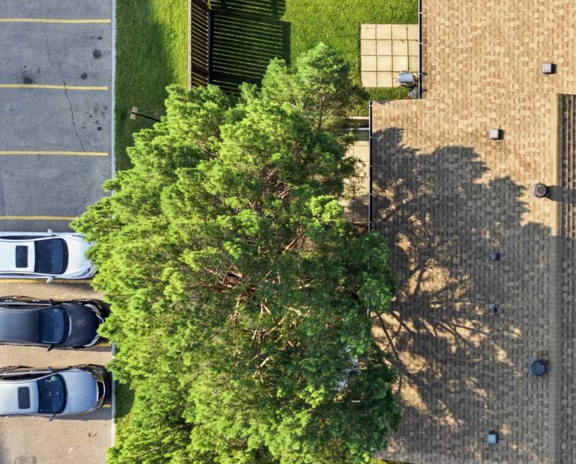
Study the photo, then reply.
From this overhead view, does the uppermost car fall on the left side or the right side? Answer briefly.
left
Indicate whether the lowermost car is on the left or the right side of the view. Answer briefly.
left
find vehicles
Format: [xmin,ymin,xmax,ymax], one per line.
[0,227,98,286]
[0,299,104,357]
[0,364,108,425]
